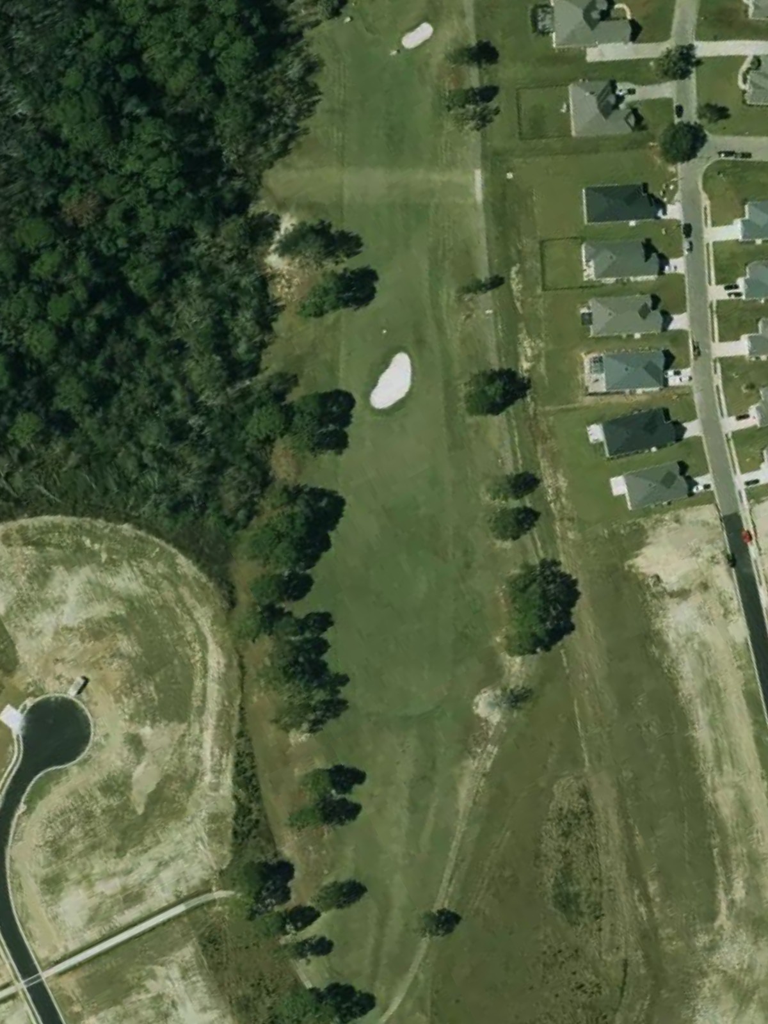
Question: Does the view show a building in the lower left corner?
No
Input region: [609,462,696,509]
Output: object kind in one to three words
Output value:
house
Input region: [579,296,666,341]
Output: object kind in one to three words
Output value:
house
